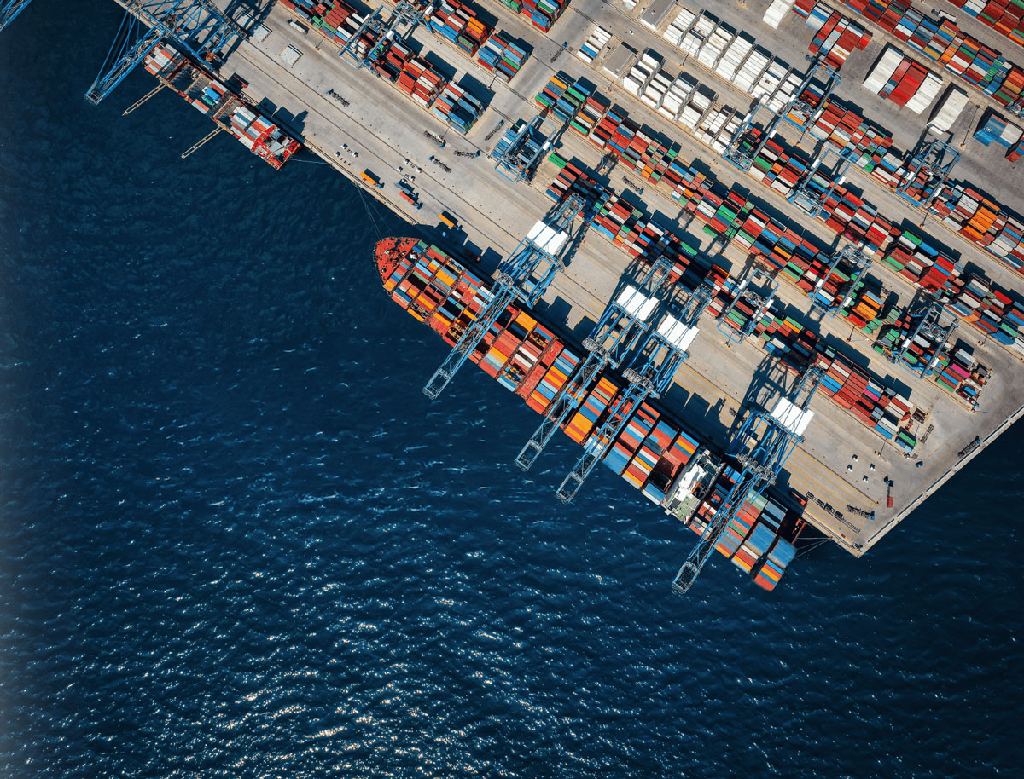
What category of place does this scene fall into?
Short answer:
port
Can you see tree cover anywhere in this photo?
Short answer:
No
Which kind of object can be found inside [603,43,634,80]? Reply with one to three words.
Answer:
building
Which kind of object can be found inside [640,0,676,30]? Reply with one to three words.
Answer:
building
